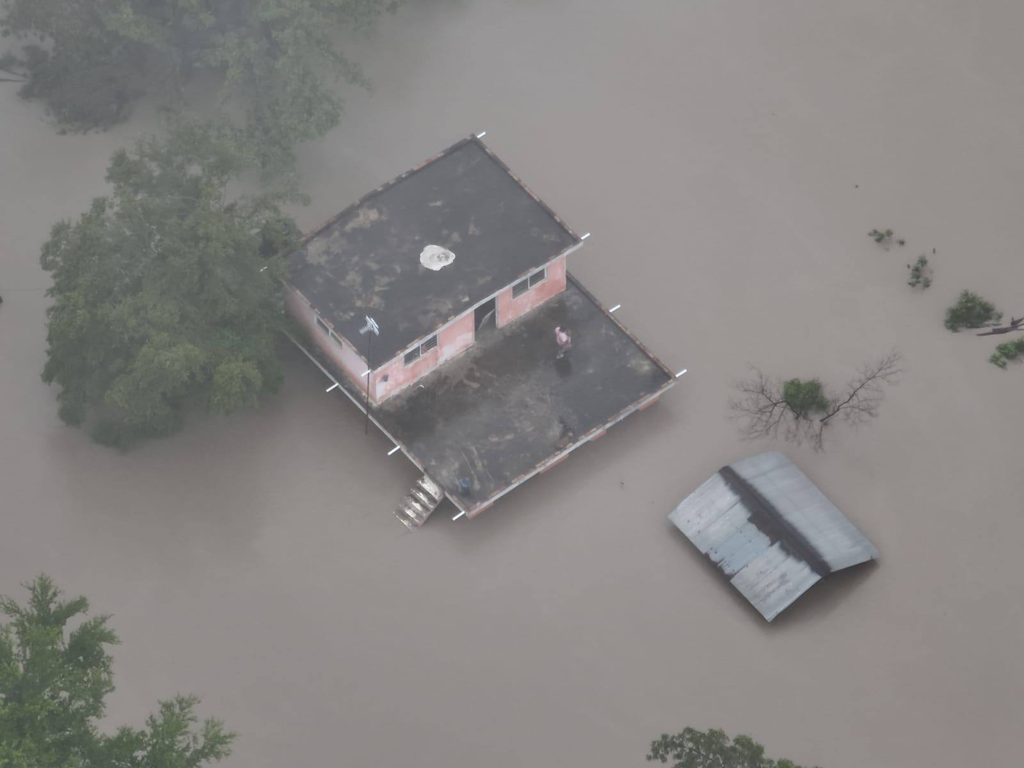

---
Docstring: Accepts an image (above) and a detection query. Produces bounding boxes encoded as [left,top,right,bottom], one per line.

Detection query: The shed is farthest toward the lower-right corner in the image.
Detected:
[669,451,877,621]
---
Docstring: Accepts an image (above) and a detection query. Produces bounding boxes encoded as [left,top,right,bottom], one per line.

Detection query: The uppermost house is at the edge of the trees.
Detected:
[270,131,686,534]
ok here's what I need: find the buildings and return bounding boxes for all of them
[669,451,877,621]
[270,131,686,534]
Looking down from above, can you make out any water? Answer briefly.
Yes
